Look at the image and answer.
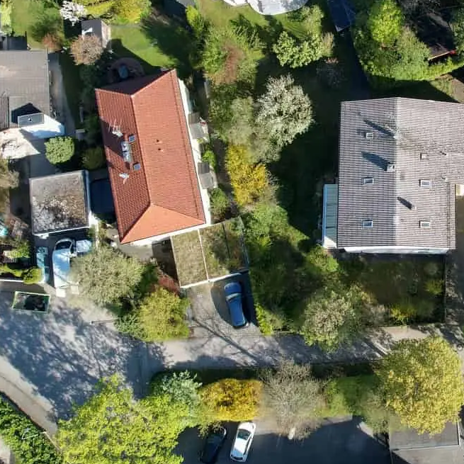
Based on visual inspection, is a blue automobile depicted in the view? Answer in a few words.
Yes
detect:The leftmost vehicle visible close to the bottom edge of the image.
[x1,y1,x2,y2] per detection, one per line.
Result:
[198,421,229,464]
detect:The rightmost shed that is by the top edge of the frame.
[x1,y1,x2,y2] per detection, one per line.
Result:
[416,14,455,63]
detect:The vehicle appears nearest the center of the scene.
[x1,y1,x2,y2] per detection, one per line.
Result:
[223,281,248,330]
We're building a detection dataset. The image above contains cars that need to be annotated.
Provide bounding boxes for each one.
[198,421,229,464]
[227,417,256,464]
[223,281,248,330]
[50,238,73,285]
